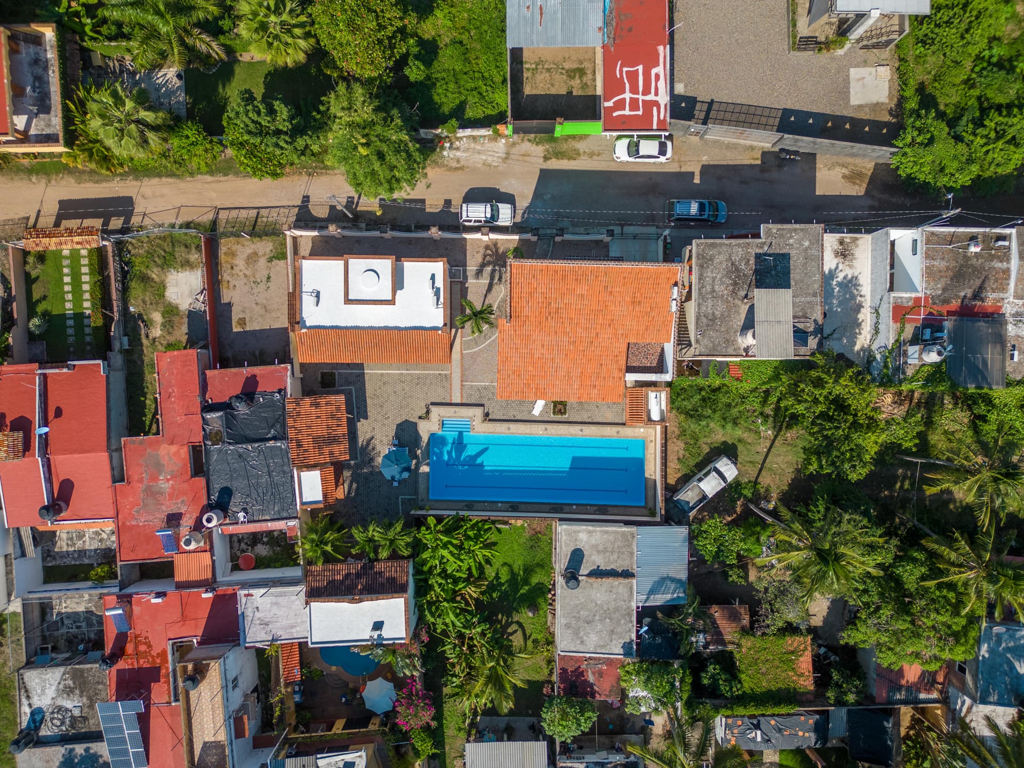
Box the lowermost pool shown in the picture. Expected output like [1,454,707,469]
[320,645,385,675]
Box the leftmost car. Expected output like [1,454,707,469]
[459,200,514,229]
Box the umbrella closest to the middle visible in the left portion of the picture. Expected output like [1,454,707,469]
[379,445,413,479]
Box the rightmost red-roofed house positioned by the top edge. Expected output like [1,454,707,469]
[600,0,669,140]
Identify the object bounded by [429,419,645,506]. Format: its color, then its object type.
blue swimming pool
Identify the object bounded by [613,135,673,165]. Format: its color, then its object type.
white car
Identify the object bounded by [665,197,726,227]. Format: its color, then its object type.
blue car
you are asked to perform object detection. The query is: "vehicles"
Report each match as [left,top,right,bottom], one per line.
[670,455,739,517]
[776,149,802,159]
[665,197,726,227]
[459,200,514,229]
[613,135,673,165]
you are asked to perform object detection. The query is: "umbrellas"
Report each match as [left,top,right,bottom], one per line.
[362,674,398,710]
[379,445,413,479]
